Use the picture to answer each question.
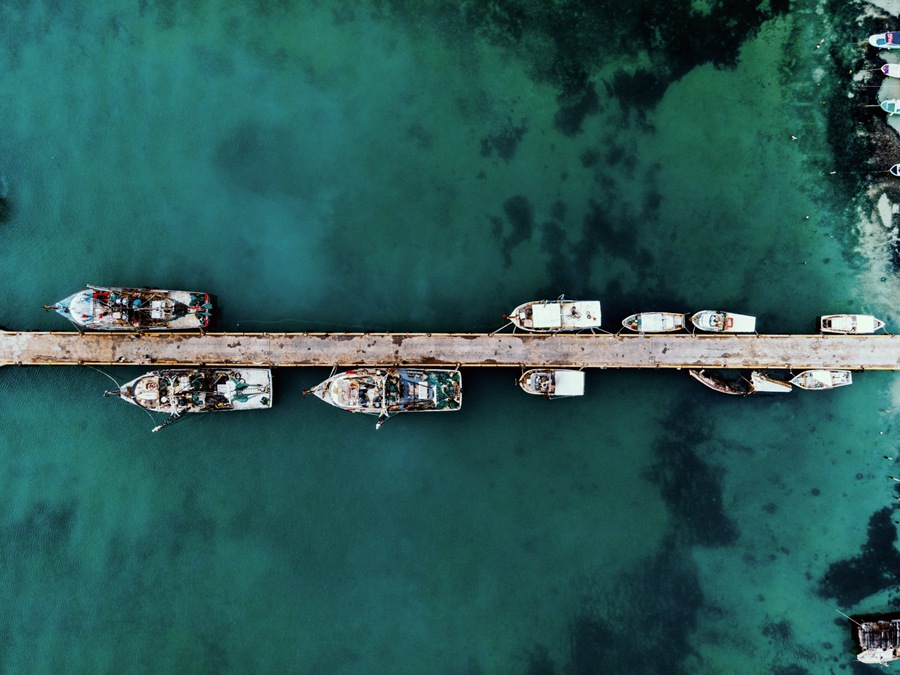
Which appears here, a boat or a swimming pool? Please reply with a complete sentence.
This aerial view contains a boat.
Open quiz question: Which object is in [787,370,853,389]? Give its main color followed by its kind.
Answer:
white boat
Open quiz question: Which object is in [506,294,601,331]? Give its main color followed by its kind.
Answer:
white boat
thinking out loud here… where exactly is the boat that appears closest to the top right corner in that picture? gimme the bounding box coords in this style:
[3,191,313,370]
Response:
[867,30,900,50]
